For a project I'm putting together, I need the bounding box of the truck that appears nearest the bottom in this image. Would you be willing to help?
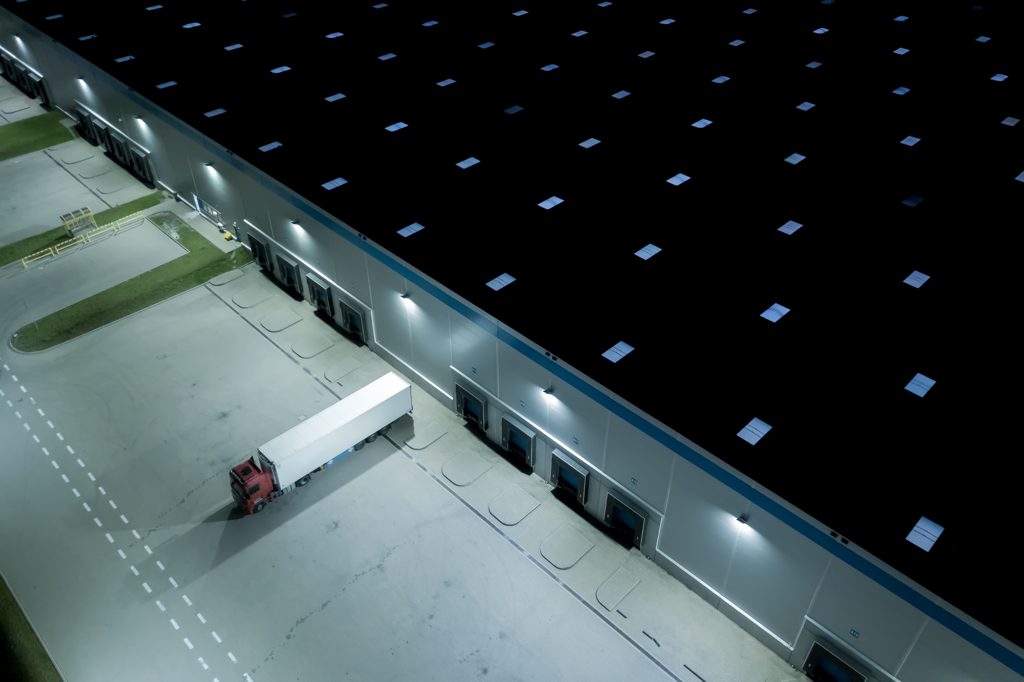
[227,372,413,514]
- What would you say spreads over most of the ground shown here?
buildings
